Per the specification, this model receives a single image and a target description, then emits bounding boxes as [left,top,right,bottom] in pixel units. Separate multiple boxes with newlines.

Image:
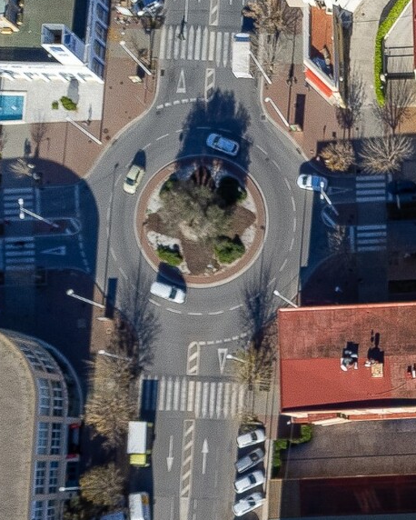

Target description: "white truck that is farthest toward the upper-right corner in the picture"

[228,34,251,77]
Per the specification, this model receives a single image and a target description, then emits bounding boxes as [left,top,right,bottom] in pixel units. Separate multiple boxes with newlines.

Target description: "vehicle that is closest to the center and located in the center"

[147,282,188,303]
